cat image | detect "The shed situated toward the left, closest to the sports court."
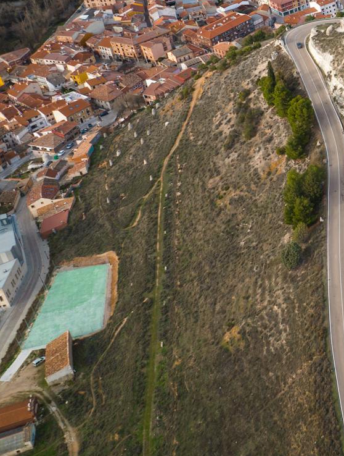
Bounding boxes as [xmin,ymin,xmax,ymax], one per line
[41,337,79,385]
